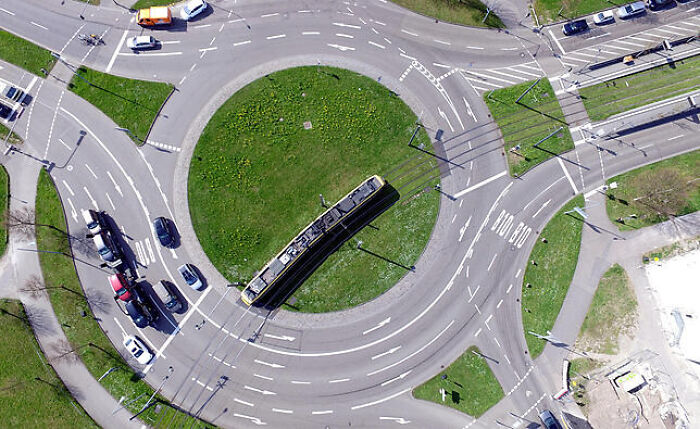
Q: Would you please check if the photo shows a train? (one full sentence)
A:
Yes, there's a train down there.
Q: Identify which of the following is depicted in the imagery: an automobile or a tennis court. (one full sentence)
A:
The one in the frame is an automobile.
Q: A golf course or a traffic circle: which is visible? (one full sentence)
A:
The image shows a traffic circle.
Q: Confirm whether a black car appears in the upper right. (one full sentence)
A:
Yes, looking in the upper right, one can make out a black car.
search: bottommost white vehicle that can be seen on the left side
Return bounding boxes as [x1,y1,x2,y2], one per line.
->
[124,333,152,364]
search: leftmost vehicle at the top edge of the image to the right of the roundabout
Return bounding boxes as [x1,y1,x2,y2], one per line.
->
[560,19,591,38]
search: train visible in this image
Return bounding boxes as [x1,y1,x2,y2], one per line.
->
[241,171,389,303]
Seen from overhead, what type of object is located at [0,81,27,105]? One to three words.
car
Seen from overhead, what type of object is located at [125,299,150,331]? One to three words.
car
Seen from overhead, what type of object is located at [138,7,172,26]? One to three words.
vehicle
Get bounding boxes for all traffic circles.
[133,15,495,372]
